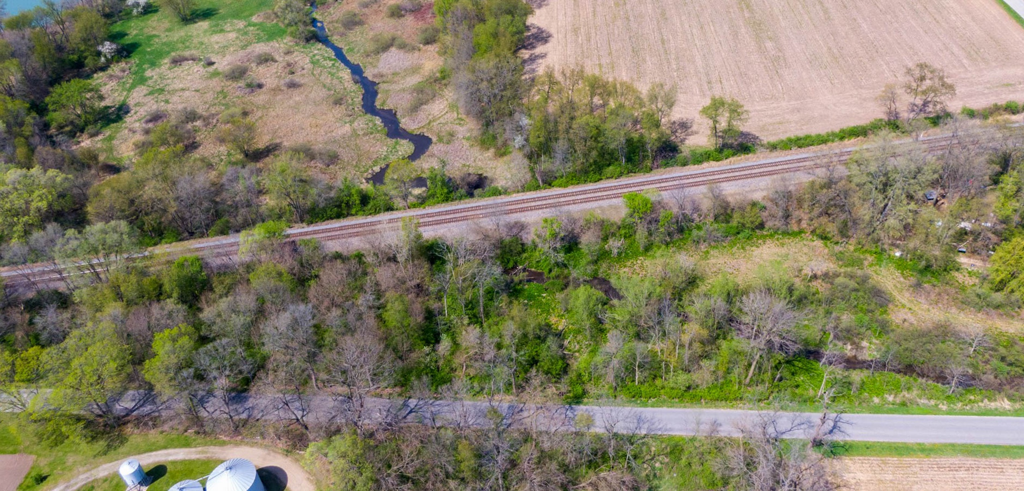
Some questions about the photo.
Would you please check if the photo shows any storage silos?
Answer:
Yes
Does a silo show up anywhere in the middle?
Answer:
No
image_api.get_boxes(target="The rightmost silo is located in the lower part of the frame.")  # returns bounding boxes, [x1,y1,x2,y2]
[204,456,267,491]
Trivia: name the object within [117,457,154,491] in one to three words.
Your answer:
silo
